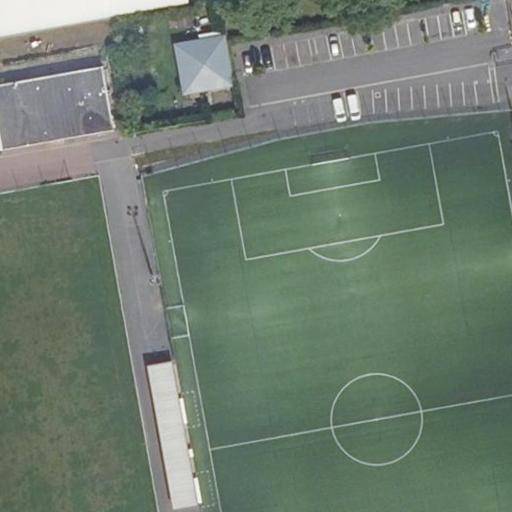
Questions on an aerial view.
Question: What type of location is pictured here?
sports ground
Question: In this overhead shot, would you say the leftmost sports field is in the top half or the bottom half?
bottom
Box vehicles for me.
[334,98,346,122]
[329,35,340,58]
[242,56,252,76]
[250,48,261,69]
[452,10,464,33]
[262,46,274,68]
[348,96,360,121]
[465,6,476,28]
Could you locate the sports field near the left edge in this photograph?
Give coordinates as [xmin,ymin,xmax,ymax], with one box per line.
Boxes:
[0,176,161,512]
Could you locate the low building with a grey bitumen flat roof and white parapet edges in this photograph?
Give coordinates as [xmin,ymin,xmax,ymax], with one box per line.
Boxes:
[0,68,113,150]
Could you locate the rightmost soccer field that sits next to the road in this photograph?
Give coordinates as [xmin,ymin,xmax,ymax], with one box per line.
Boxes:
[142,113,512,512]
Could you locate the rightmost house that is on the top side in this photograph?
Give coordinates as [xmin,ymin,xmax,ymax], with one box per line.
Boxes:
[174,32,233,95]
